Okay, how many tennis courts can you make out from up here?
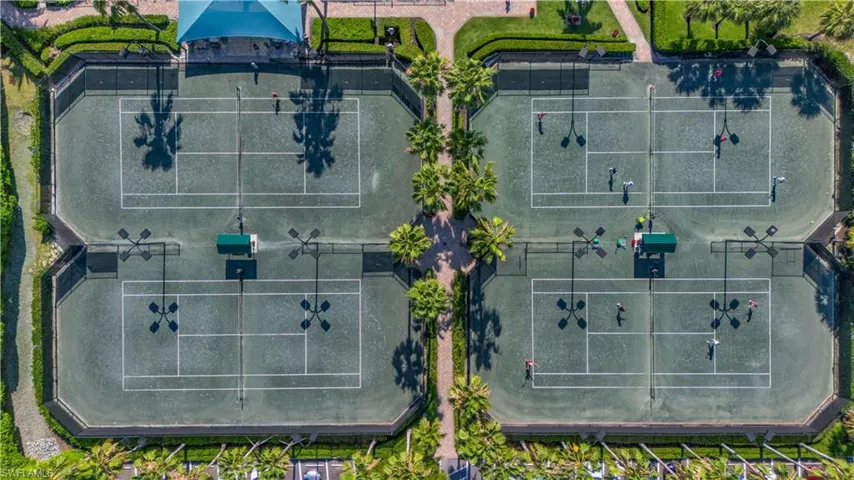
4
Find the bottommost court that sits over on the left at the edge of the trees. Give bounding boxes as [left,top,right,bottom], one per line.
[52,242,426,429]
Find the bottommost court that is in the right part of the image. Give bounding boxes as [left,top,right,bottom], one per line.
[468,243,836,428]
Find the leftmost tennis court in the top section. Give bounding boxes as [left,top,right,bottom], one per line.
[50,59,426,243]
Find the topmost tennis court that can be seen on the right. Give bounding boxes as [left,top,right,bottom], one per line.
[468,59,837,244]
